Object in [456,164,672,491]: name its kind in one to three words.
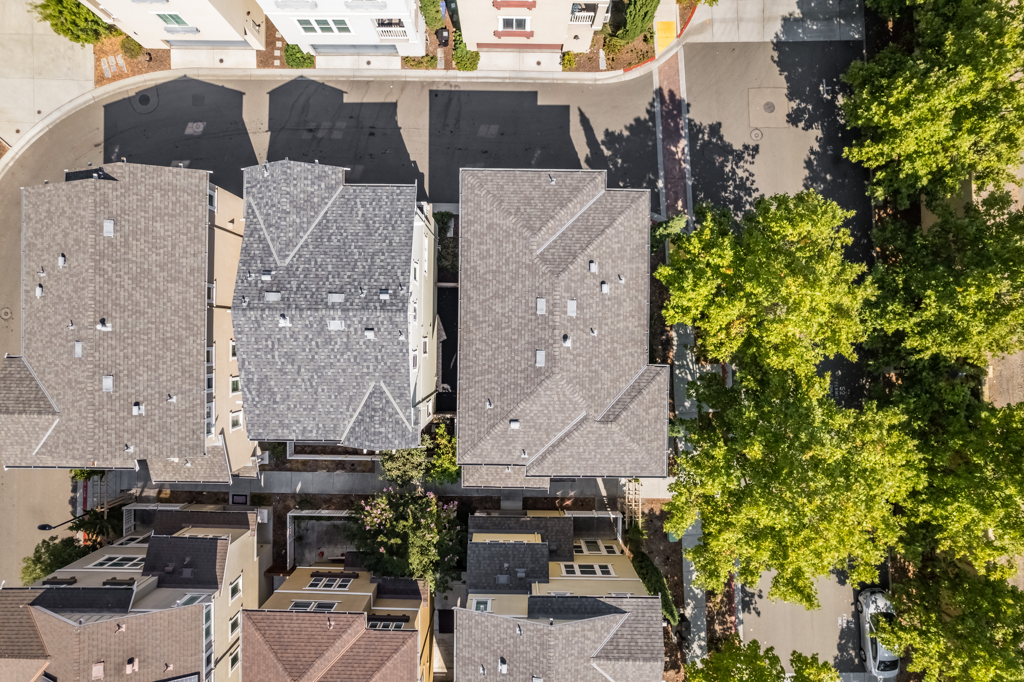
house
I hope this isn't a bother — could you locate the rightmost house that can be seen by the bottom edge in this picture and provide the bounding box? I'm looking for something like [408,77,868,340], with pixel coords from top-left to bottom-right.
[450,511,670,682]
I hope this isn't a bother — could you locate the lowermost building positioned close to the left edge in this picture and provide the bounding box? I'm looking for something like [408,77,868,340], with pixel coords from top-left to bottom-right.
[0,507,271,682]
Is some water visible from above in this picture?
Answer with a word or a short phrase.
No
